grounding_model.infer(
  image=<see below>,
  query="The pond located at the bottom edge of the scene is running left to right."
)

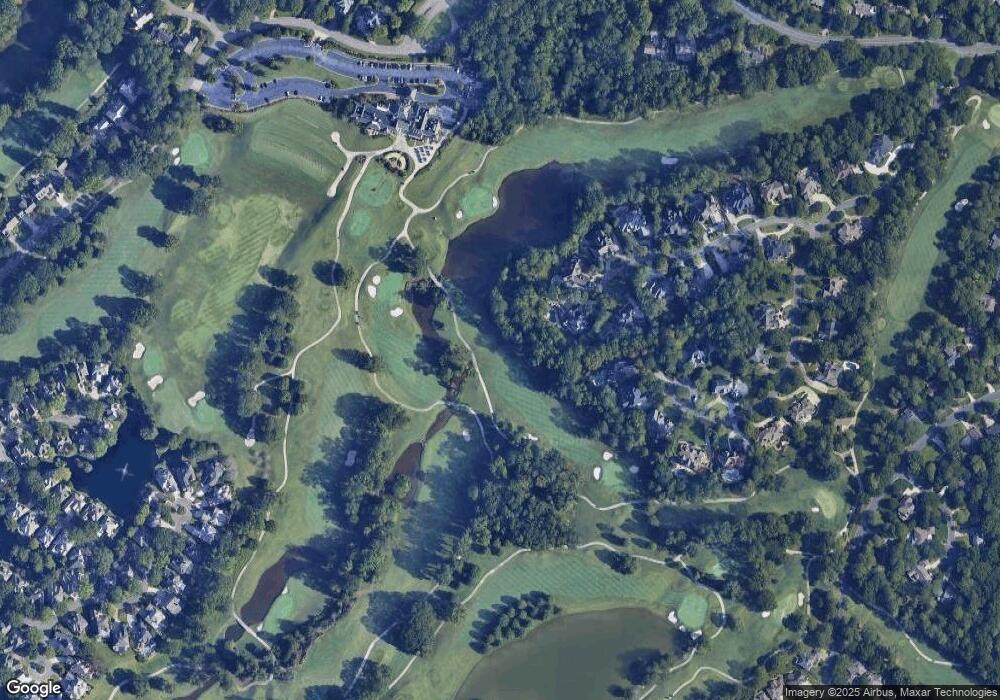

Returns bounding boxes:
[456,606,688,700]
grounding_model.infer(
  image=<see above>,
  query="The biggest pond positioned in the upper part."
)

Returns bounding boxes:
[440,162,598,338]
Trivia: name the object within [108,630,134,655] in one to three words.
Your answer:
house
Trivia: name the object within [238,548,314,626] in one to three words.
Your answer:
pond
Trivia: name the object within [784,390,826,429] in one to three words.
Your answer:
house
